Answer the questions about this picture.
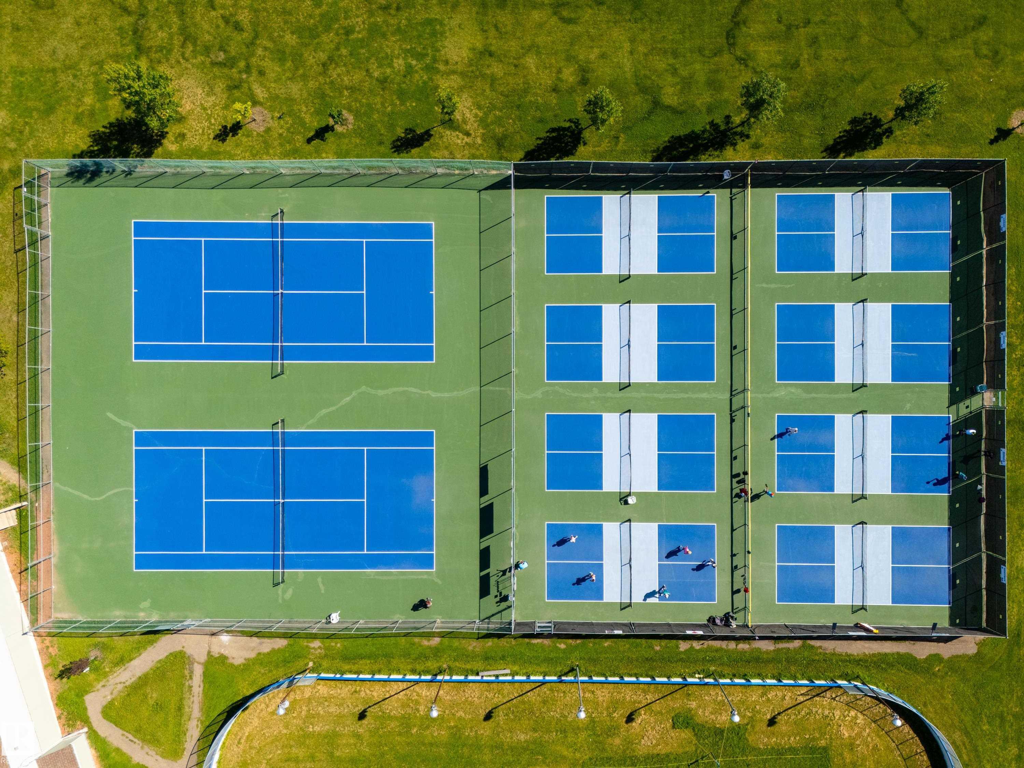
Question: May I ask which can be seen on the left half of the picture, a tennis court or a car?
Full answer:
You can see a tennis court on the left half of the picture.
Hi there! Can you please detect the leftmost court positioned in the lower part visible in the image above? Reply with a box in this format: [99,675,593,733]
[133,429,435,571]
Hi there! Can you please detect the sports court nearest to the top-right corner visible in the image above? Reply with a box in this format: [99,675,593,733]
[776,192,952,273]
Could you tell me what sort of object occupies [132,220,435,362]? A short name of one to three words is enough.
tennis court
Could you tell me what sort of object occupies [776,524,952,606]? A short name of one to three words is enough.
sports court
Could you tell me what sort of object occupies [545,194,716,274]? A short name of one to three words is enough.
sports court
